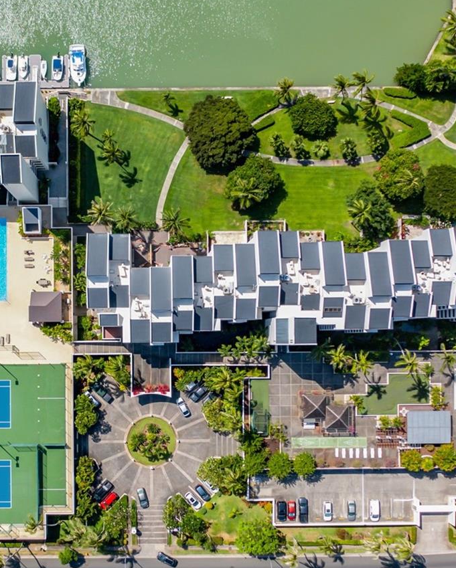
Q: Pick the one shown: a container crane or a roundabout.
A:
roundabout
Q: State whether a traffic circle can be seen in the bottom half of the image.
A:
Yes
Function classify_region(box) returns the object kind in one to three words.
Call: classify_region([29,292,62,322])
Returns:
building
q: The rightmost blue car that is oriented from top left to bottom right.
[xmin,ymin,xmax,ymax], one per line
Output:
[193,483,211,503]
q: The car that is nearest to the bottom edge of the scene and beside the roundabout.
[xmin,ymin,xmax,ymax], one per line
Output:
[156,551,179,568]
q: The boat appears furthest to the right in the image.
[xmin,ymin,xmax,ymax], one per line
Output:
[70,43,87,89]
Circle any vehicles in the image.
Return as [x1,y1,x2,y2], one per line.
[193,483,211,503]
[277,500,288,522]
[323,501,333,521]
[288,500,297,521]
[176,397,192,417]
[137,487,149,508]
[83,391,101,409]
[156,551,179,568]
[184,491,202,510]
[298,498,309,523]
[369,500,381,522]
[96,481,115,498]
[181,379,200,395]
[347,500,357,521]
[102,492,118,508]
[187,385,208,404]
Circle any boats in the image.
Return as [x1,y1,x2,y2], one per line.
[41,61,47,78]
[6,52,17,82]
[52,53,64,82]
[19,52,28,78]
[70,43,87,89]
